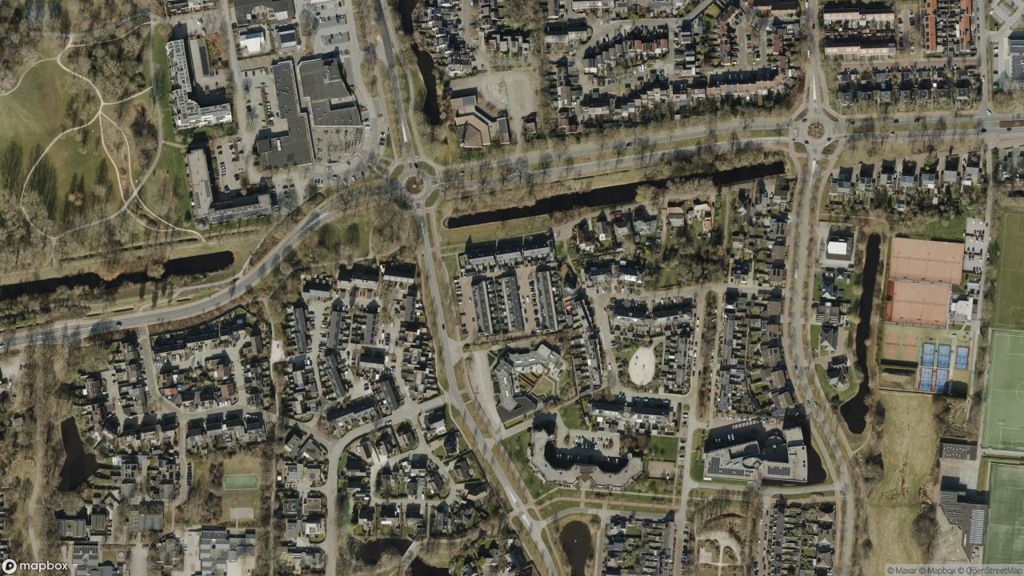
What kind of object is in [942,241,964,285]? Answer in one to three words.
tennis court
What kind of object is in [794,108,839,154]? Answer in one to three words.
roundabout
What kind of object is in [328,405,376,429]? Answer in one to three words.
building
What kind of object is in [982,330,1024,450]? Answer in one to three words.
soccer field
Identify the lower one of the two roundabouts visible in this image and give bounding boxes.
[390,161,439,207]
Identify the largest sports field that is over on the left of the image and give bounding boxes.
[222,453,262,524]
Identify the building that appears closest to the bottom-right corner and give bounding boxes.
[939,490,988,563]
